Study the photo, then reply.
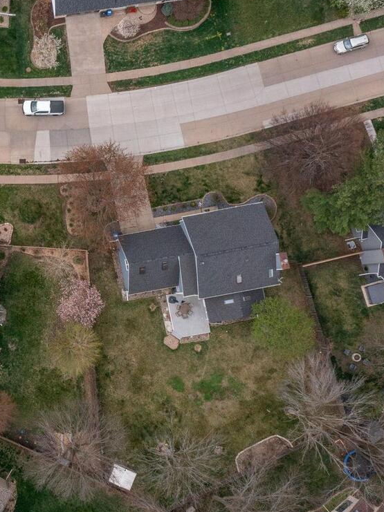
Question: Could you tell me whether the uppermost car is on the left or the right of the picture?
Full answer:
You can find the uppermost car on the right side of the picture.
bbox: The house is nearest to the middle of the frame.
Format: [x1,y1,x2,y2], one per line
[110,202,290,325]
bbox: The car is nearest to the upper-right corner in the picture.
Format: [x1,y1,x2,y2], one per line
[331,33,369,55]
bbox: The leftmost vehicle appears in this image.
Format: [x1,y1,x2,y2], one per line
[22,99,65,116]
